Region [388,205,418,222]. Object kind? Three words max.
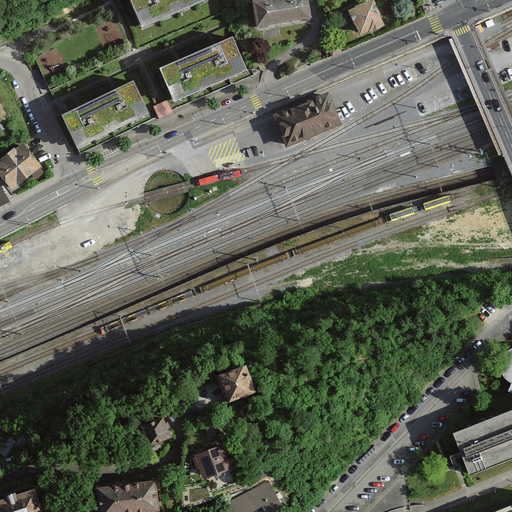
rail car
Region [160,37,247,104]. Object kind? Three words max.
building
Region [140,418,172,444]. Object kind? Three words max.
house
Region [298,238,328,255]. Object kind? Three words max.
rail car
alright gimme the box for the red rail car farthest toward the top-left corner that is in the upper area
[197,168,243,186]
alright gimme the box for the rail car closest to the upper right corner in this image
[422,194,454,210]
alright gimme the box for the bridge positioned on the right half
[448,26,512,178]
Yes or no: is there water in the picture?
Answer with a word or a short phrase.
No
